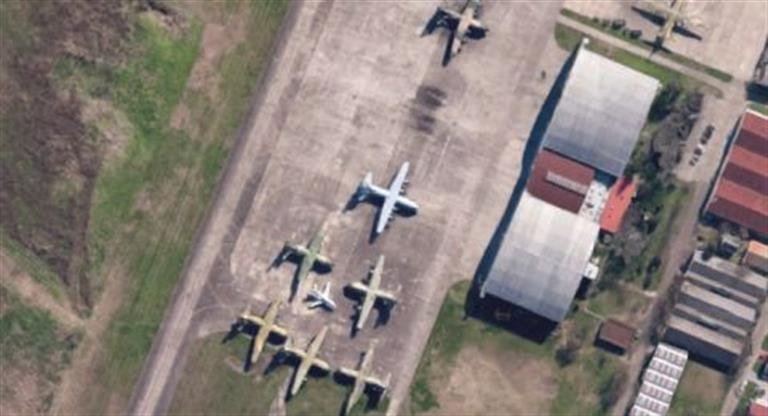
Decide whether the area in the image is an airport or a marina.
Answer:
airport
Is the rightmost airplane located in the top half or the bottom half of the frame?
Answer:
top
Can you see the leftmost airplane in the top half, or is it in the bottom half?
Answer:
bottom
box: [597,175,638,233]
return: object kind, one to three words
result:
house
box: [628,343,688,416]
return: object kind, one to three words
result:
shed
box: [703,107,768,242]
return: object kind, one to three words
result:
building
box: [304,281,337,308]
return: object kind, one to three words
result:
airplane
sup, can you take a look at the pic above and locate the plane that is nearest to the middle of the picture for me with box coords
[357,163,418,235]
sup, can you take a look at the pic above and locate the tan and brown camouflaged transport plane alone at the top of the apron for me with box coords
[432,0,487,60]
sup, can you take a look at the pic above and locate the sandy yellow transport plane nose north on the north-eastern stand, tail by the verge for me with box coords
[638,0,710,47]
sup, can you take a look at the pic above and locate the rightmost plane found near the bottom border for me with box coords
[339,341,394,415]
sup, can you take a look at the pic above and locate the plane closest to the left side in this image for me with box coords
[234,293,288,364]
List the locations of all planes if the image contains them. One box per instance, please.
[638,0,710,47]
[432,0,487,60]
[234,293,288,364]
[276,325,331,396]
[278,222,333,292]
[339,341,394,415]
[304,281,337,308]
[350,254,404,328]
[357,163,418,235]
